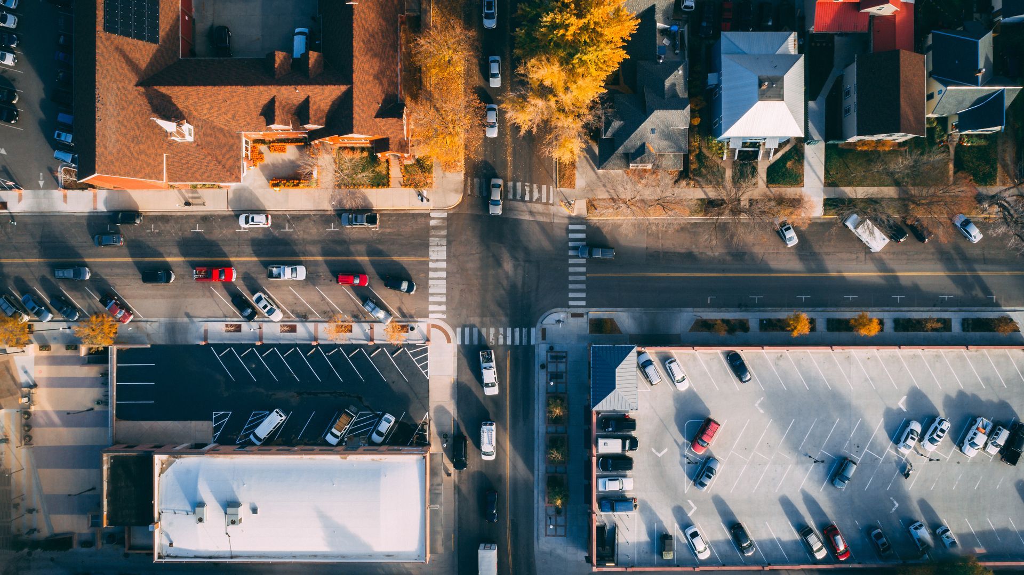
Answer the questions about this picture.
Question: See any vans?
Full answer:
Yes, a van is visible in the scene.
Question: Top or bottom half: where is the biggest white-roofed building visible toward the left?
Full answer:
The biggest white-roofed building visible toward the left is in the bottom half of the image.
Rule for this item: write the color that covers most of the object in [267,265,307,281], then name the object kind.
white vehicle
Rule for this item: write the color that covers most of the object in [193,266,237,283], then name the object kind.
red vehicle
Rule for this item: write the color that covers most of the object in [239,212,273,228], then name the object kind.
white car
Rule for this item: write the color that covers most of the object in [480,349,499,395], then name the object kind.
white vehicle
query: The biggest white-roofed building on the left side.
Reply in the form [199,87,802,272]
[148,433,444,565]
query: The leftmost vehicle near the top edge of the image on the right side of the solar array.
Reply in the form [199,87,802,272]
[213,24,231,56]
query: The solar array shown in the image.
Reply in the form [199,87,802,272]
[105,0,159,44]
